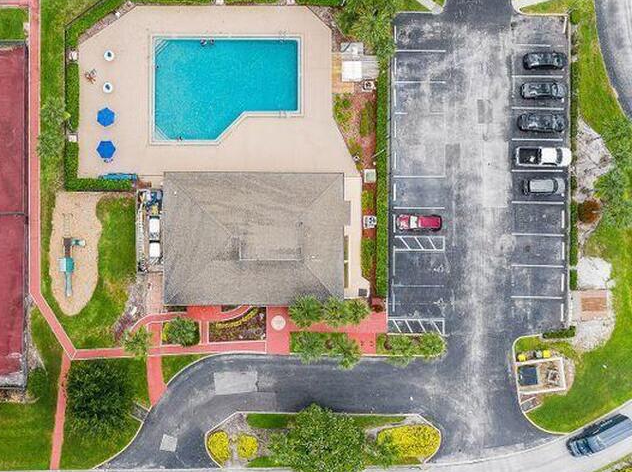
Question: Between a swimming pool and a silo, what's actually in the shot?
swimming pool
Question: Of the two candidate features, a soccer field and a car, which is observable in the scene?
car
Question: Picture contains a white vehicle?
Yes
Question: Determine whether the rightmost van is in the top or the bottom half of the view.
bottom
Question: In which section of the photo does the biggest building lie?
center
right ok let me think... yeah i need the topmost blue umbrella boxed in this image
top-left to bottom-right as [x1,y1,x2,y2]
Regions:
[97,107,115,127]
